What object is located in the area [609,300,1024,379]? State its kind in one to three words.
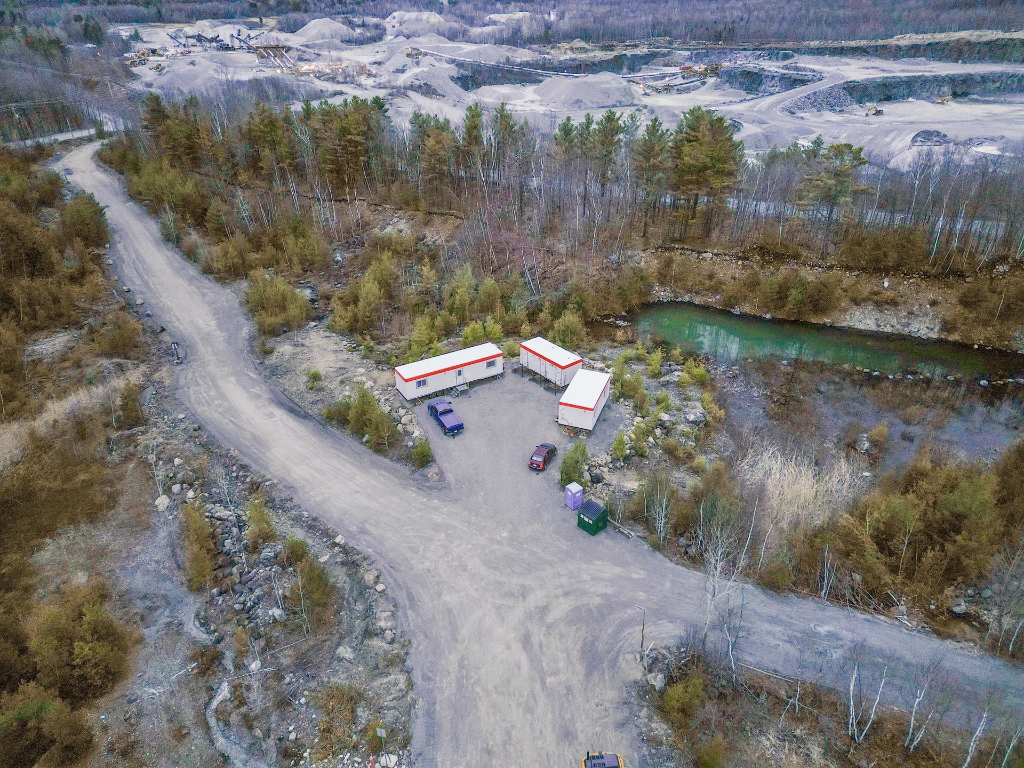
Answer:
pond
